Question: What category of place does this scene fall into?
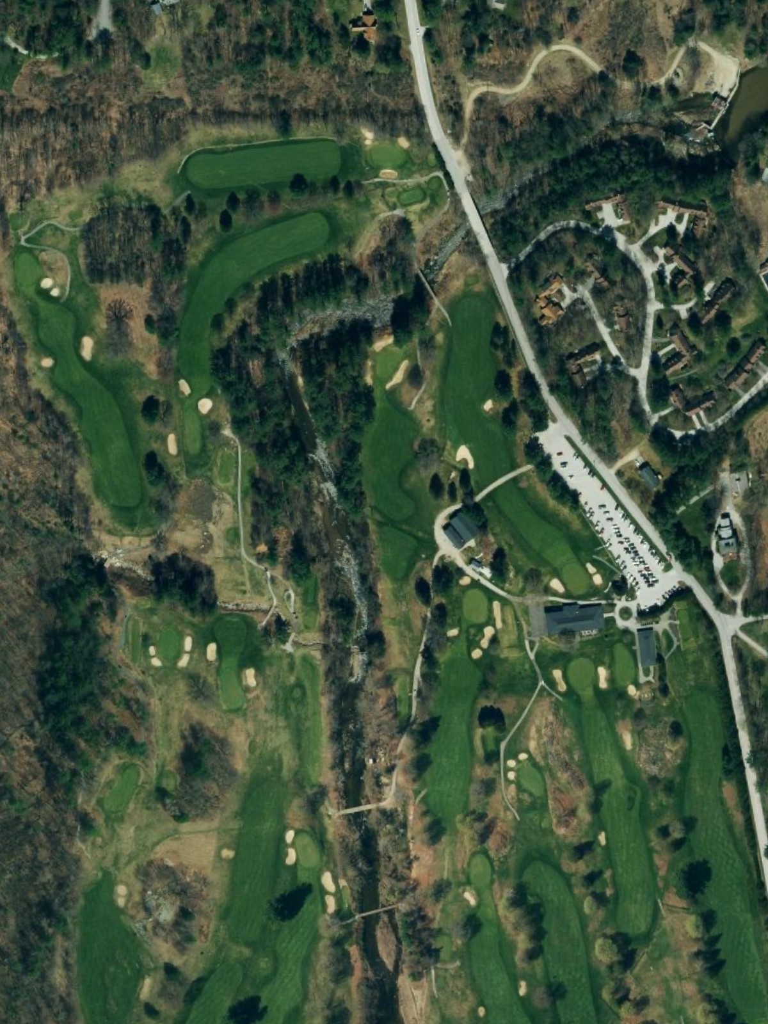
golf course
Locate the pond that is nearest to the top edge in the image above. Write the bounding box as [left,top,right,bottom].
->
[713,62,768,156]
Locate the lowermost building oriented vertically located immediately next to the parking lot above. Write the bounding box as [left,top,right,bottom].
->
[637,627,659,667]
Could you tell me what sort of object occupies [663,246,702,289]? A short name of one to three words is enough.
house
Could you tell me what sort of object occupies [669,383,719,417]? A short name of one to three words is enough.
house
